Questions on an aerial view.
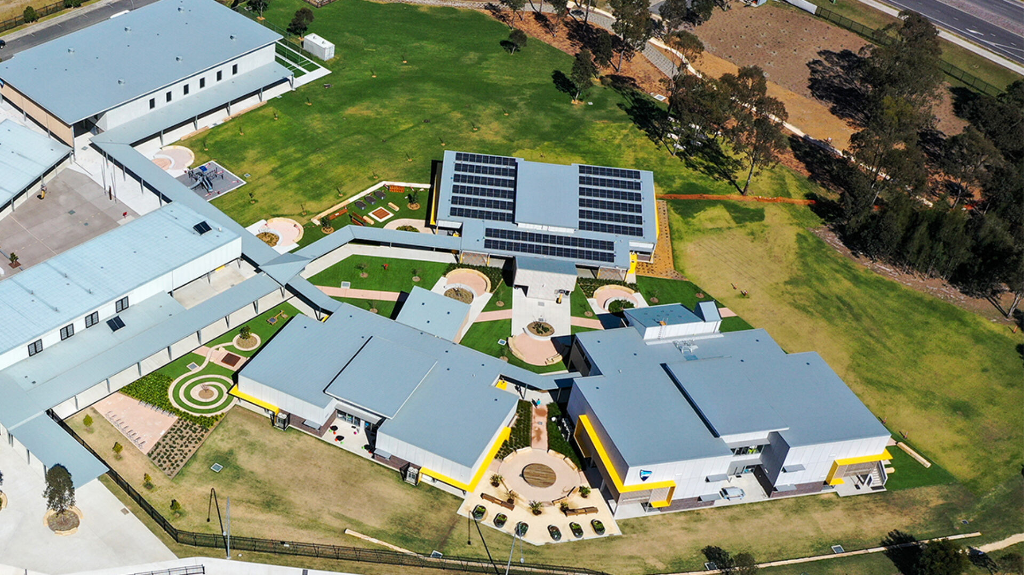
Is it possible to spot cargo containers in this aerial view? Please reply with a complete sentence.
Yes, the picture does show a cargo container.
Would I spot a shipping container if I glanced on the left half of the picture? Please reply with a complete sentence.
Yes, looking on the left half of the picture, one can make out a shipping container.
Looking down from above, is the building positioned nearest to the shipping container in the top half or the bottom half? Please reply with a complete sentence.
It is in the top half that the building positioned nearest to the shipping container appears.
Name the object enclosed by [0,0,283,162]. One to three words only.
building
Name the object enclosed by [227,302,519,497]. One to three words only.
building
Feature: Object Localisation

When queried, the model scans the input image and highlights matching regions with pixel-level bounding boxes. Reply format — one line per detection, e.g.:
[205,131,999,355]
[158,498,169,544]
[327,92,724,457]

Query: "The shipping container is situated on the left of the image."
[304,30,336,60]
